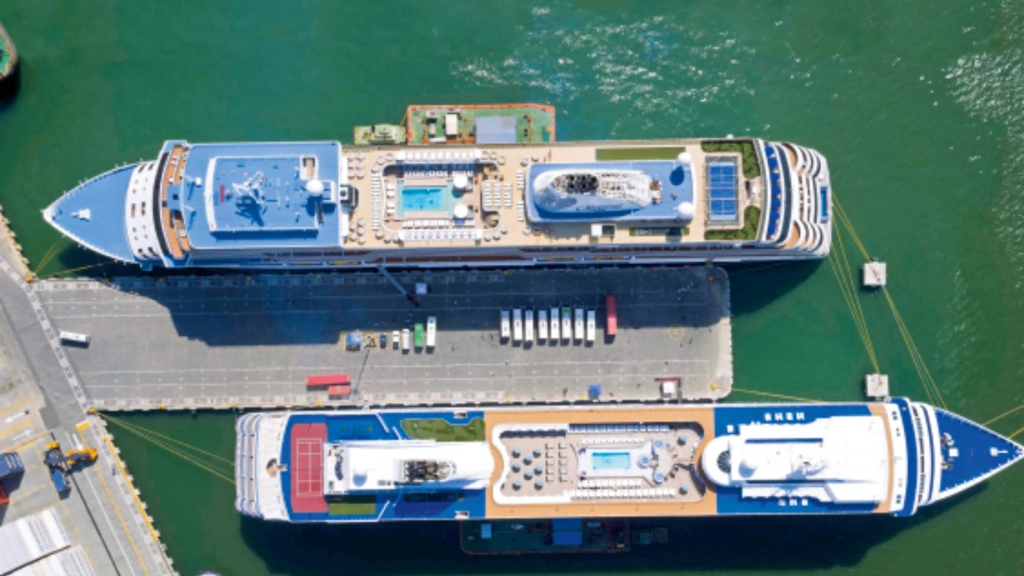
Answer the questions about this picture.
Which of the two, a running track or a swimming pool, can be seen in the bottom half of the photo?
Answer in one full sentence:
Looking in the bottom half of the photo, you will find a swimming pool.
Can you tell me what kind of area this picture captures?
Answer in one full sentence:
This image shows a port.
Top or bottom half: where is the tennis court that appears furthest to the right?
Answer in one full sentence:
It is in the top half that the tennis court that appears furthest to the right appears.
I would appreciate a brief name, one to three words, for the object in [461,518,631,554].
ship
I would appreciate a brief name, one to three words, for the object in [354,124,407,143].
boat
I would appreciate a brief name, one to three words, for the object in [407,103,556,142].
ship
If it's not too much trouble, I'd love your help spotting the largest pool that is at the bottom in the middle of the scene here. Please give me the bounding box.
[592,451,631,471]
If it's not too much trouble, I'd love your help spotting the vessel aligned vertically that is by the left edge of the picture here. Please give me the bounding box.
[0,33,24,87]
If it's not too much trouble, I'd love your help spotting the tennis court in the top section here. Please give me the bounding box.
[706,152,744,225]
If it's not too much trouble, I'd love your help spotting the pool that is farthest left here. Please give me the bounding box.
[401,186,445,212]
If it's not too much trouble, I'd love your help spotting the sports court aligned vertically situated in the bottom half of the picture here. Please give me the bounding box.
[292,423,328,513]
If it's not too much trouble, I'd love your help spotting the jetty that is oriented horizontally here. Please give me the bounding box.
[32,265,735,413]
